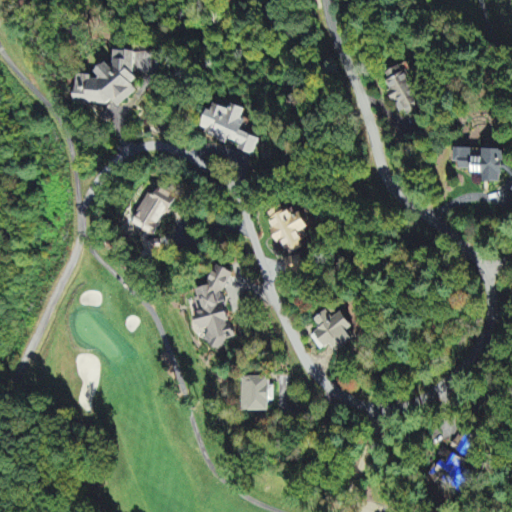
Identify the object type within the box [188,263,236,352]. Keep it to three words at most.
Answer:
house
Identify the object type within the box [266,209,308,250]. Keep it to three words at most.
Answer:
house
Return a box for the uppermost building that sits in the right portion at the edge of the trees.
[384,66,418,111]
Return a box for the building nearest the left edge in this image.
[68,46,135,104]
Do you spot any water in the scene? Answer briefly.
No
